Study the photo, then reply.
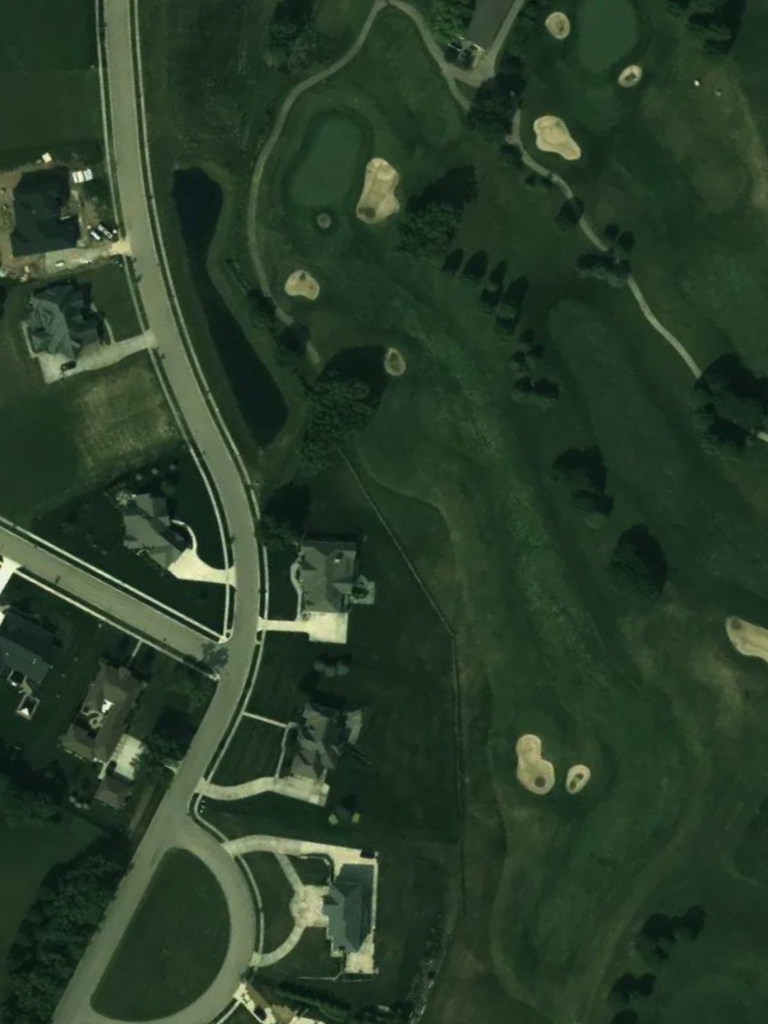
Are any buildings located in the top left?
Yes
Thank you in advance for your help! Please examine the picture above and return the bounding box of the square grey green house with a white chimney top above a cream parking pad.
[299,542,359,619]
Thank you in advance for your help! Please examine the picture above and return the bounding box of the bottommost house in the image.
[322,864,373,953]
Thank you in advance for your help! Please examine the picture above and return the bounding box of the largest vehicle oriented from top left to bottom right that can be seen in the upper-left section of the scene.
[97,222,114,240]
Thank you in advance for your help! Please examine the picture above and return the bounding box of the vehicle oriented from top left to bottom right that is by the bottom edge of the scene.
[252,1006,268,1020]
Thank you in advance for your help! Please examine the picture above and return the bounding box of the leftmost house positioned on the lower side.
[0,608,54,683]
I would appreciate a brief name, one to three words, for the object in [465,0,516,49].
building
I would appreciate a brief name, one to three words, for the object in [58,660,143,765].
house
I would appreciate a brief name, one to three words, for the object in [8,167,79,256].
house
